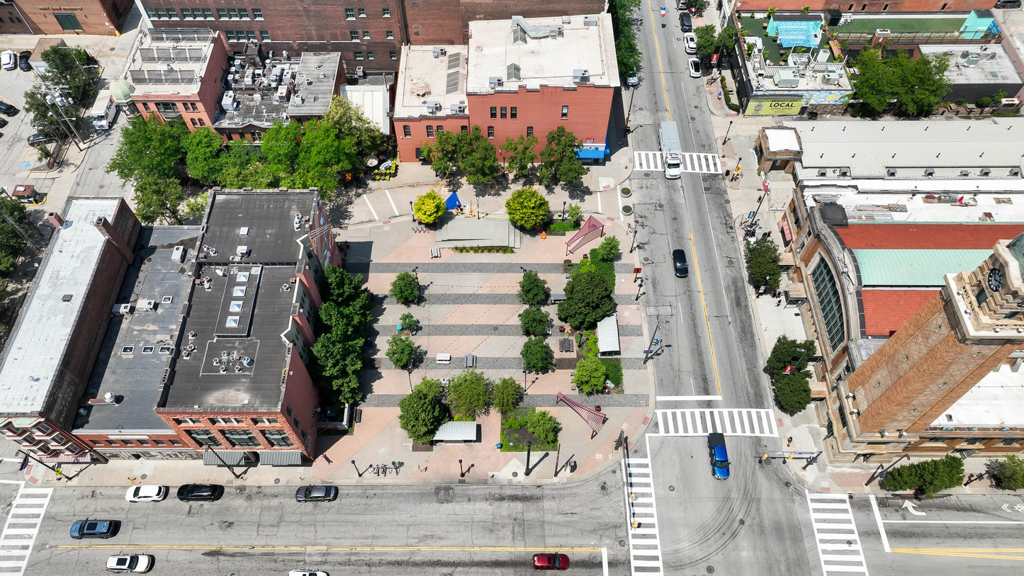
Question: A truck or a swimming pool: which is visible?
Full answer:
Looking from above, you can make out a truck.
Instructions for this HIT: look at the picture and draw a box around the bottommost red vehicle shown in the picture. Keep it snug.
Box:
[530,551,568,572]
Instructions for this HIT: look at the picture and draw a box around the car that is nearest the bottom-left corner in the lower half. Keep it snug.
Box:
[74,518,120,540]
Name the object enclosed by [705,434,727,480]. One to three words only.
truck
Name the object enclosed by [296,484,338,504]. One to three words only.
car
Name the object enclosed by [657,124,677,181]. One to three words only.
vehicle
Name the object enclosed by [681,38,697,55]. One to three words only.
car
